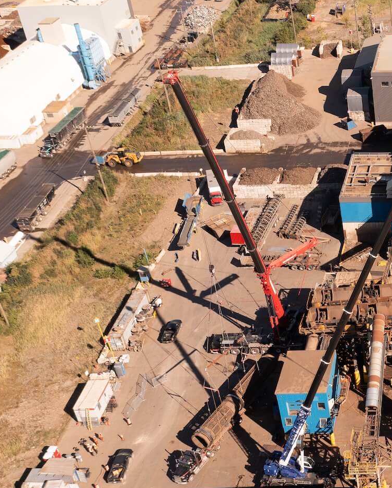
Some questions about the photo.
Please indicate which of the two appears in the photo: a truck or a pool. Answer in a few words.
truck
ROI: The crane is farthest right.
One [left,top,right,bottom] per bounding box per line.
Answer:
[247,207,392,488]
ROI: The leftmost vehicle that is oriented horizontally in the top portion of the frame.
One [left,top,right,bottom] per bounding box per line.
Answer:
[94,144,137,163]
